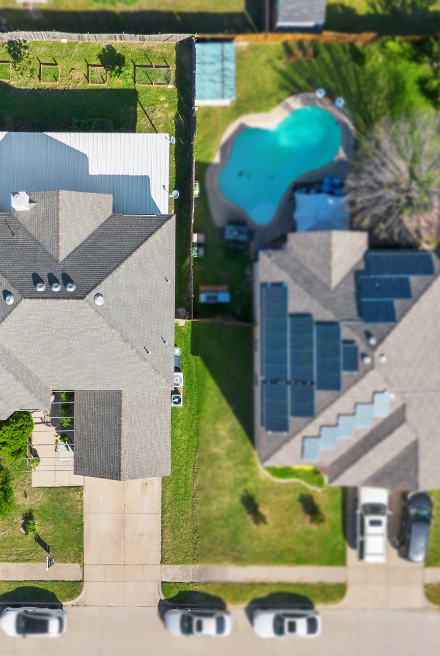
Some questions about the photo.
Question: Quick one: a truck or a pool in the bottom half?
truck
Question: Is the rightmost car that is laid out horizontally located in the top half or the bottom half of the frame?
bottom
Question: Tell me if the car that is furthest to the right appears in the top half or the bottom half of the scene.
bottom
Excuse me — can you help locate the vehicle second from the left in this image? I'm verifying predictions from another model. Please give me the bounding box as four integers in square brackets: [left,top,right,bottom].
[164,604,231,637]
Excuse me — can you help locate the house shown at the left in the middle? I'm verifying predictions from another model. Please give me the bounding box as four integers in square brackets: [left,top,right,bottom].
[0,193,175,483]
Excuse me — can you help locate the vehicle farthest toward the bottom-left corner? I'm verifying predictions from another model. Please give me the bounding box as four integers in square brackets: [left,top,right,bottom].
[0,603,66,637]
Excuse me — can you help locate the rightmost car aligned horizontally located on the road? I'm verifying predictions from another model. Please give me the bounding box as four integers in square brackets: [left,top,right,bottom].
[252,605,321,638]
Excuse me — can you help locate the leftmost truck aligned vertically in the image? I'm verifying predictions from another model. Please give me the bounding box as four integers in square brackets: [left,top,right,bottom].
[358,487,392,562]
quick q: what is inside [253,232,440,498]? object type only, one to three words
house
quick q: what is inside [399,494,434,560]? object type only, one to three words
car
